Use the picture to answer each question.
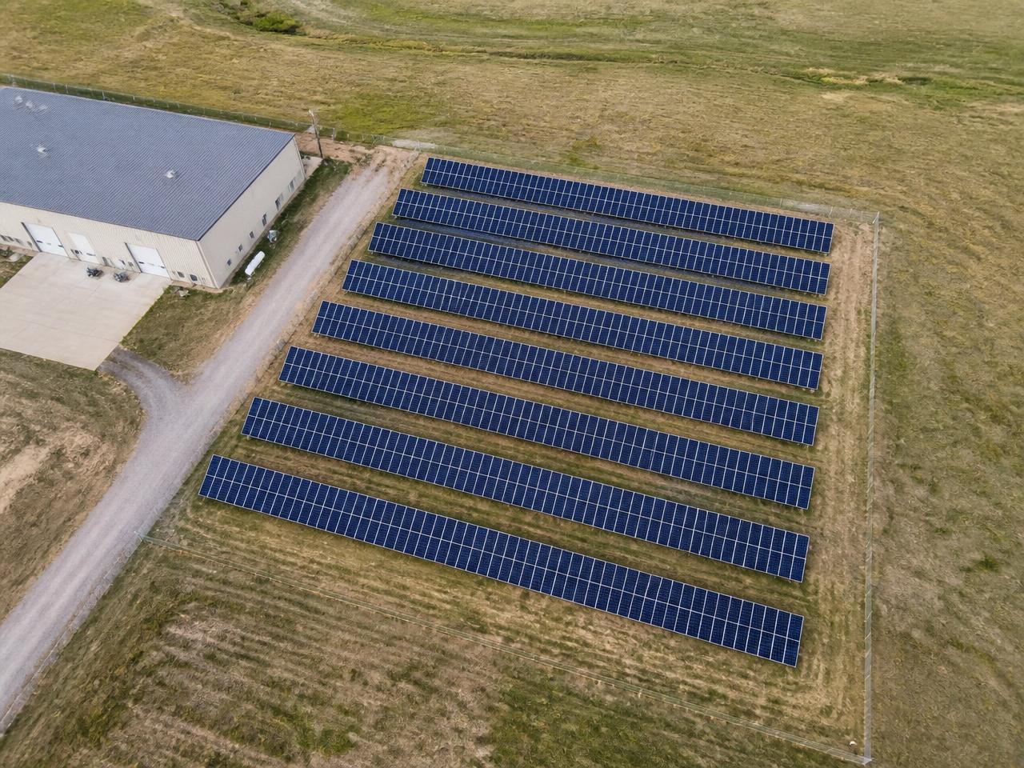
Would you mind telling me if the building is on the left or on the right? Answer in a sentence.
The building appears in the left half of the scene.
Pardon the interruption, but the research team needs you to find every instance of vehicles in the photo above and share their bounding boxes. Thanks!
[111,269,128,283]
[84,264,103,277]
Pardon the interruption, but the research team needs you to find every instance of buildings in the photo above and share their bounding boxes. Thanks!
[0,84,307,289]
